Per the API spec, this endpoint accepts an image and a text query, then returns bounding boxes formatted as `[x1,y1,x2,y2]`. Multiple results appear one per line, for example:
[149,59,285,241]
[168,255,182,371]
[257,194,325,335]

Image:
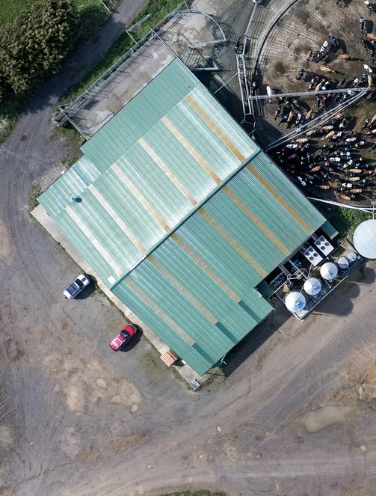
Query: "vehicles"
[59,272,95,302]
[106,323,138,353]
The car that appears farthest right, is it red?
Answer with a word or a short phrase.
Yes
